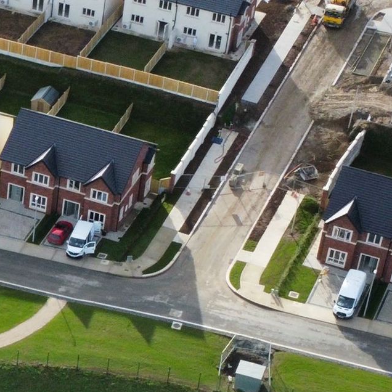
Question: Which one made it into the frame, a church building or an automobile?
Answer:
automobile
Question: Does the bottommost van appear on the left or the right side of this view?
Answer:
right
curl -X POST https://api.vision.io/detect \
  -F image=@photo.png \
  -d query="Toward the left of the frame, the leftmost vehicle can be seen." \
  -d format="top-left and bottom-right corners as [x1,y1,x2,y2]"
[49,219,76,244]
